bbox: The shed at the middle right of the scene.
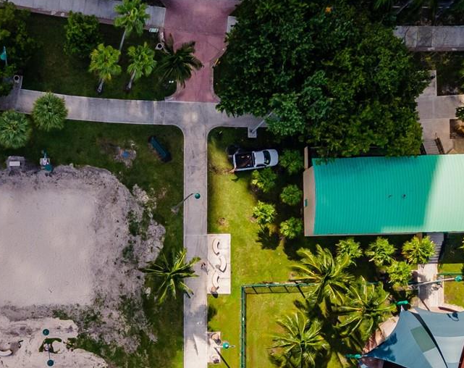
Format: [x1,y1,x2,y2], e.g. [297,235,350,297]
[303,153,464,239]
